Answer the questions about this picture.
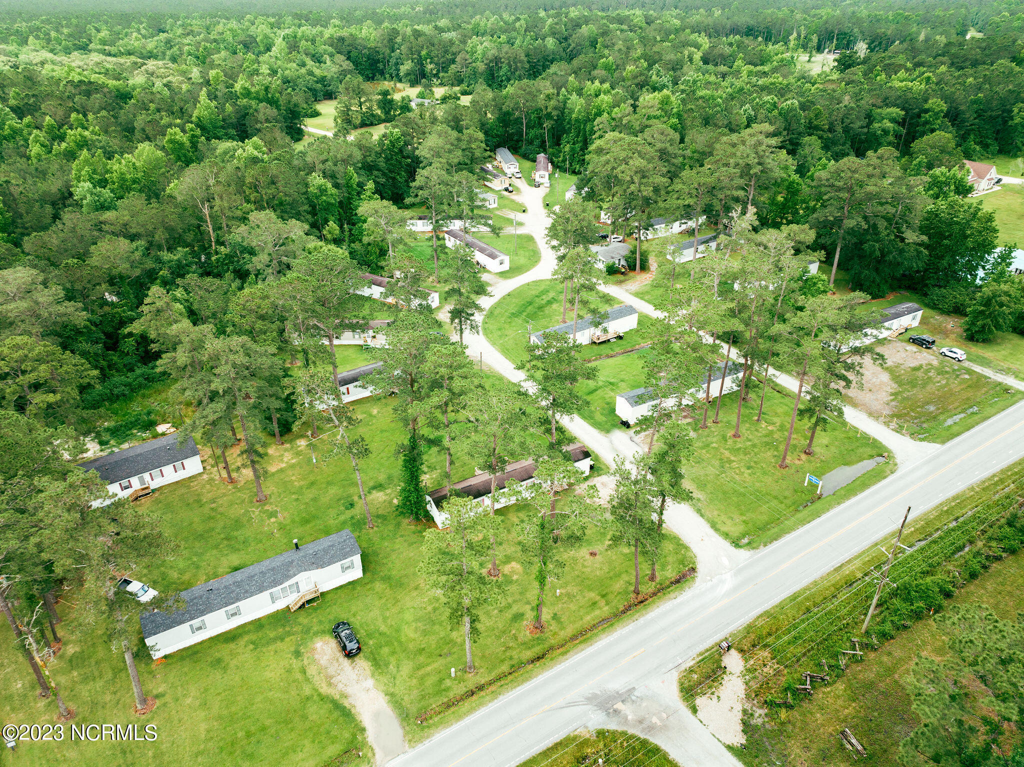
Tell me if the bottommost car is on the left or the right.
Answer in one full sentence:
You can find the bottommost car on the left side of the picture.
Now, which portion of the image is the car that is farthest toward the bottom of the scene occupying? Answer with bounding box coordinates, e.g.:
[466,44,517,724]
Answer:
[333,620,362,661]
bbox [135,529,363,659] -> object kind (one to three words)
house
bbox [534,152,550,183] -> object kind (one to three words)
house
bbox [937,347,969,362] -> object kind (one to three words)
car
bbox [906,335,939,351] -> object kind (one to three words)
car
